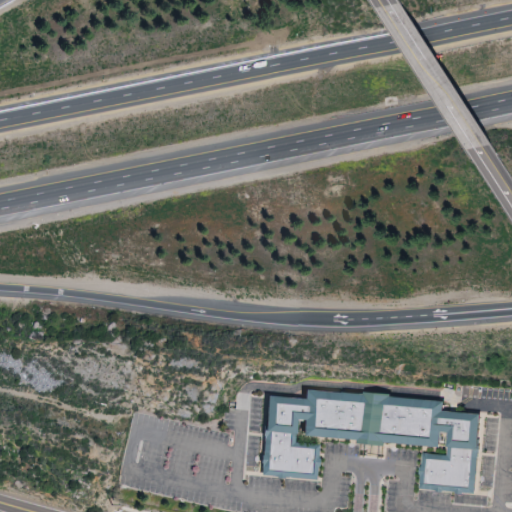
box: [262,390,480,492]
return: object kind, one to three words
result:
building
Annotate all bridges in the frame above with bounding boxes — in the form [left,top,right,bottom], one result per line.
[372,0,492,154]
